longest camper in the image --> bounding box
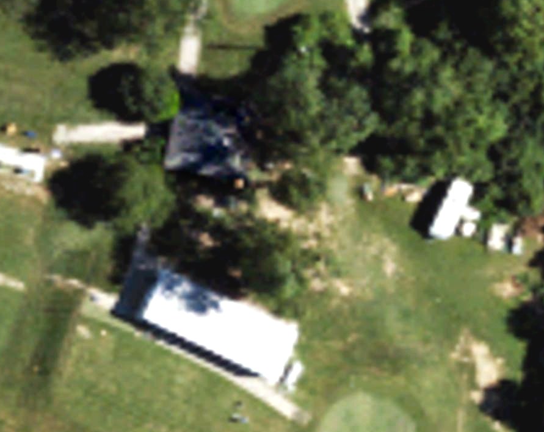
[432,178,471,239]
